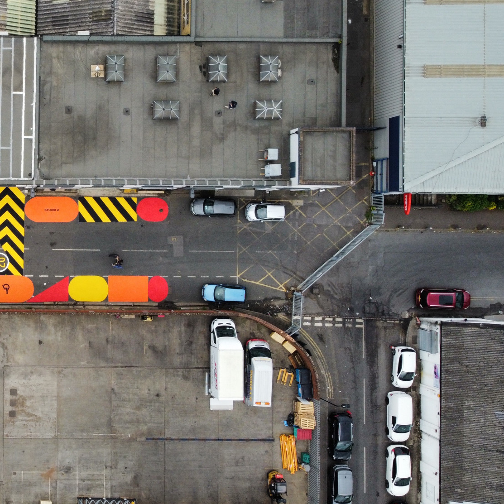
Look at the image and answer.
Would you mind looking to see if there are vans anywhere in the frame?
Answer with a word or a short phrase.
Yes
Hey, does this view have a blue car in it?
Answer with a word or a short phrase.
Yes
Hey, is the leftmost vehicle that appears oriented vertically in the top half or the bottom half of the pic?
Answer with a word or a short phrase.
bottom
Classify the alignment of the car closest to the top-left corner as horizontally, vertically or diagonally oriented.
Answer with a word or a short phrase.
horizontally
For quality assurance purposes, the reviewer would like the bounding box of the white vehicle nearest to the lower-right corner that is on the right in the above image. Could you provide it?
[383,444,413,493]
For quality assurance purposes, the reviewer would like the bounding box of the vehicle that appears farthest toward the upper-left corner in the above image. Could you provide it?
[189,195,236,219]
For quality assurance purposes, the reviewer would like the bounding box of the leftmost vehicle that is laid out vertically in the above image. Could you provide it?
[201,316,243,406]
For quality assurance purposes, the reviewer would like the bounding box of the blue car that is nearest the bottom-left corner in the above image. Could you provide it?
[201,281,246,305]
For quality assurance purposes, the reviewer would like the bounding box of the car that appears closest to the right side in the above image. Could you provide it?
[413,286,469,312]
